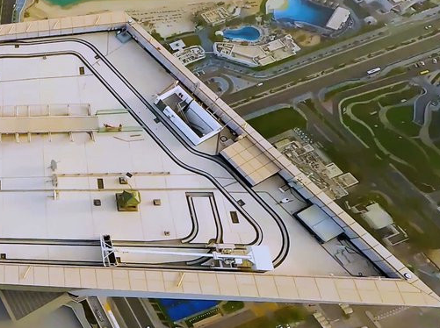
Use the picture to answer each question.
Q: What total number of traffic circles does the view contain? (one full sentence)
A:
No traffic circles are visible.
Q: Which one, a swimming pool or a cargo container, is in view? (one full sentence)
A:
Visible in the photo is a swimming pool.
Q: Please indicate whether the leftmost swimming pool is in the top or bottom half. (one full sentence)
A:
The bottom half of the photo is where the leftmost swimming pool is.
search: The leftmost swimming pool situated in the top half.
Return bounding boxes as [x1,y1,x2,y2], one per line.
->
[223,23,263,42]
